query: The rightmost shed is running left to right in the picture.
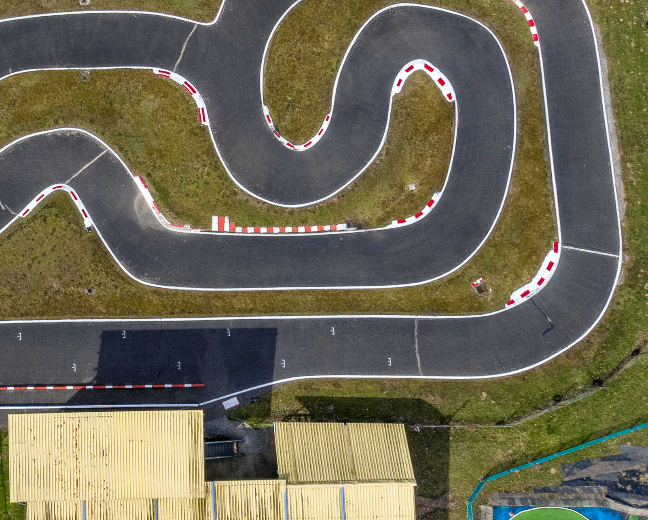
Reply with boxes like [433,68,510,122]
[274,422,417,486]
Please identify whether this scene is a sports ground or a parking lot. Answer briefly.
sports ground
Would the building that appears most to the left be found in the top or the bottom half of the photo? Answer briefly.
bottom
